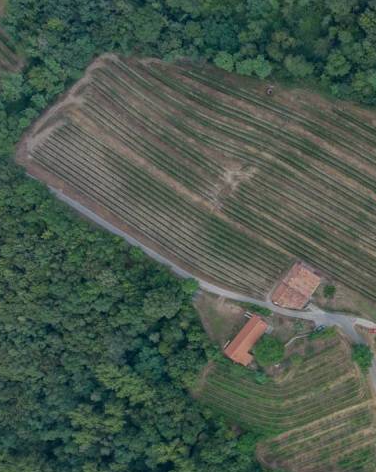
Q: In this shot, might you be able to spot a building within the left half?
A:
No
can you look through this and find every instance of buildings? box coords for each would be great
[225,314,269,368]
[276,260,320,311]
